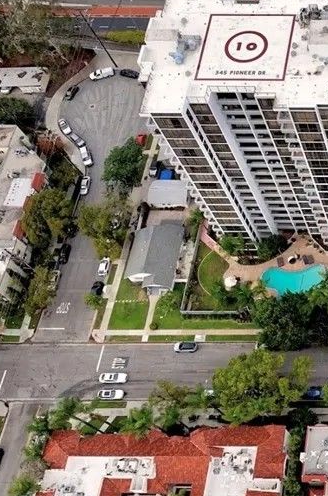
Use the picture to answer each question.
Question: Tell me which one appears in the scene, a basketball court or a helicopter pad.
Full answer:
It is a helicopter pad that can be seen here.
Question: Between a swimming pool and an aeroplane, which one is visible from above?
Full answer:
It is a swimming pool that can be seen here.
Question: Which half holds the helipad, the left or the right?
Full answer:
The helipad sits on the right side.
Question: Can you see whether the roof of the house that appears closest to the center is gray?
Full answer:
Yes, the roof of the house that appears closest to the center is indeed gray.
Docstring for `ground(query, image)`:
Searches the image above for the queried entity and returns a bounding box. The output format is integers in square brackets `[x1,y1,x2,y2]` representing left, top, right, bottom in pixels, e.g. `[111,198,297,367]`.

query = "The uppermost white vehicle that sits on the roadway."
[91,68,116,80]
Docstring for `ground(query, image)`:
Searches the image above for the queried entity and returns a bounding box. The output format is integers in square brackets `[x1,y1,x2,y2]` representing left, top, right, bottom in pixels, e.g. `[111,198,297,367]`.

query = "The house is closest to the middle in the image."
[125,225,187,293]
